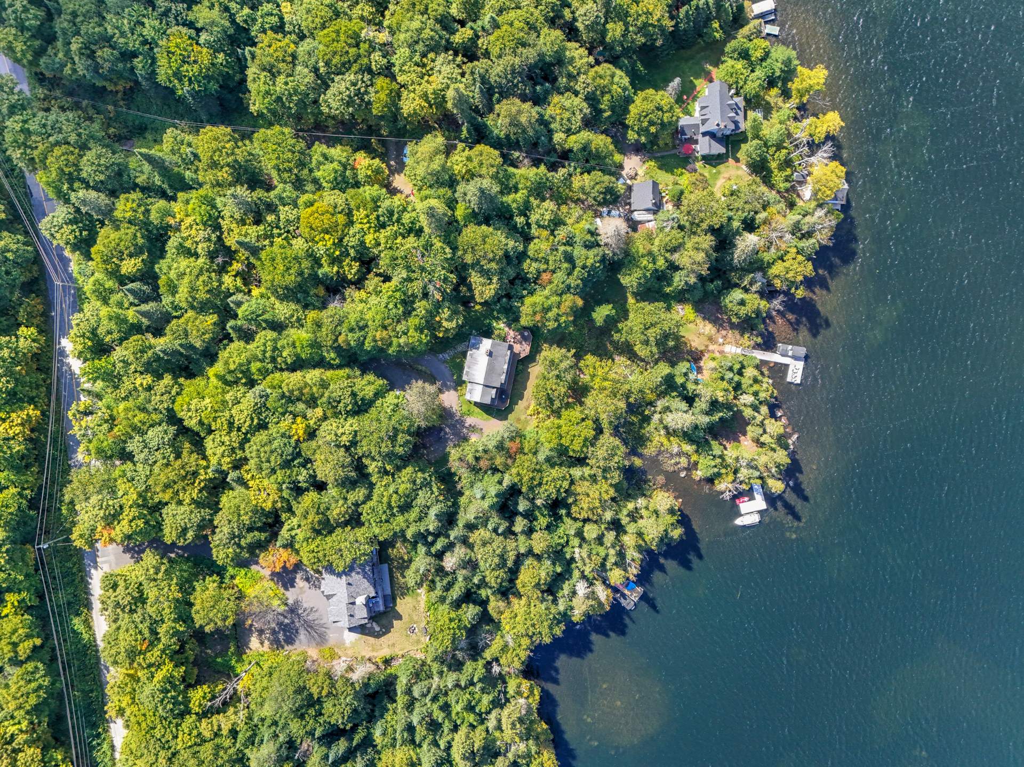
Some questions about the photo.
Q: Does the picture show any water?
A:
Yes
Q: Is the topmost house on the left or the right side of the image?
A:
right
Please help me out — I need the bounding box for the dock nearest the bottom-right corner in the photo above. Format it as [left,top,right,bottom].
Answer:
[739,482,766,514]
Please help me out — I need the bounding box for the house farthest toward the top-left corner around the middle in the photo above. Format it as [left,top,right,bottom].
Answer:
[463,336,514,404]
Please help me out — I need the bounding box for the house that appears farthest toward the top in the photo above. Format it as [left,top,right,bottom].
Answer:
[676,81,745,159]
